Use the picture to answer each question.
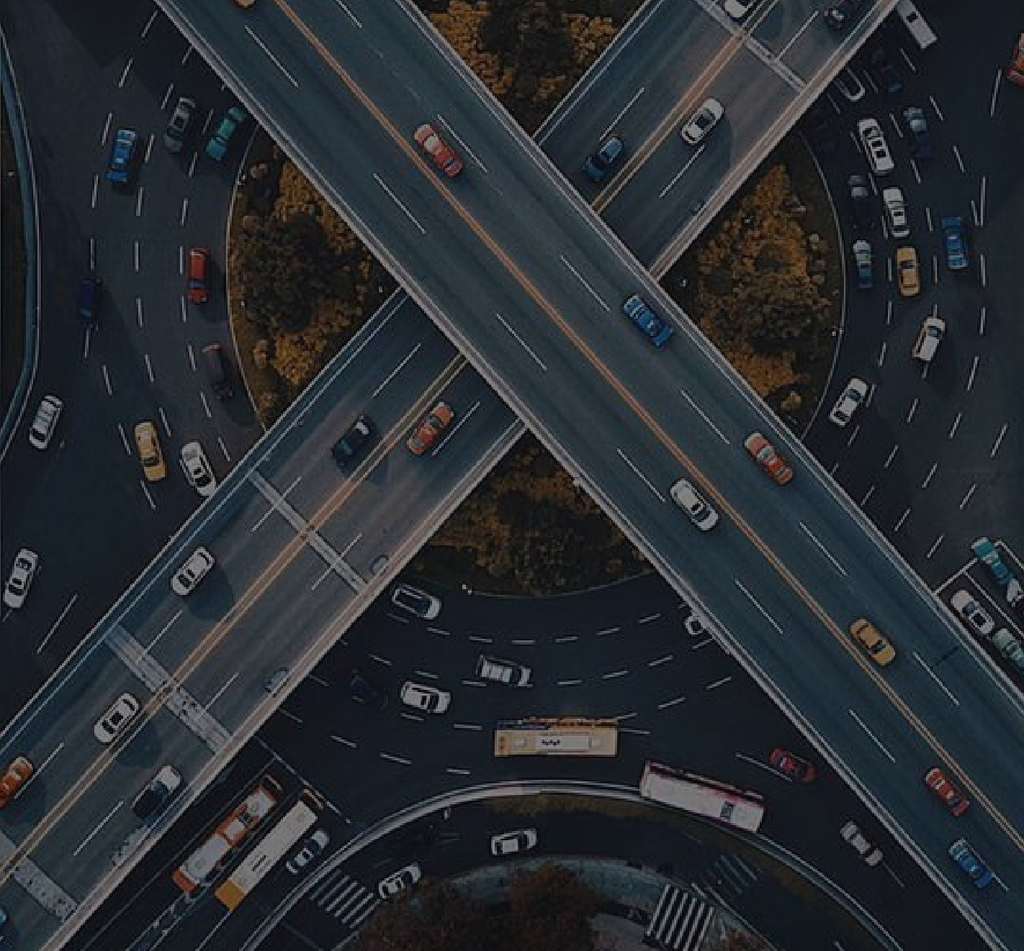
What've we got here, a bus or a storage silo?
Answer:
bus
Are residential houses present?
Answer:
No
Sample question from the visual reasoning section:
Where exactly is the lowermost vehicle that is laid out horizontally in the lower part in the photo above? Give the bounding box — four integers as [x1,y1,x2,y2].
[488,825,540,854]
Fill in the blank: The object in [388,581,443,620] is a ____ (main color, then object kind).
black car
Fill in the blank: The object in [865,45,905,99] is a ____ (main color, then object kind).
black car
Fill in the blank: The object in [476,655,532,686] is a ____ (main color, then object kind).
gray car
